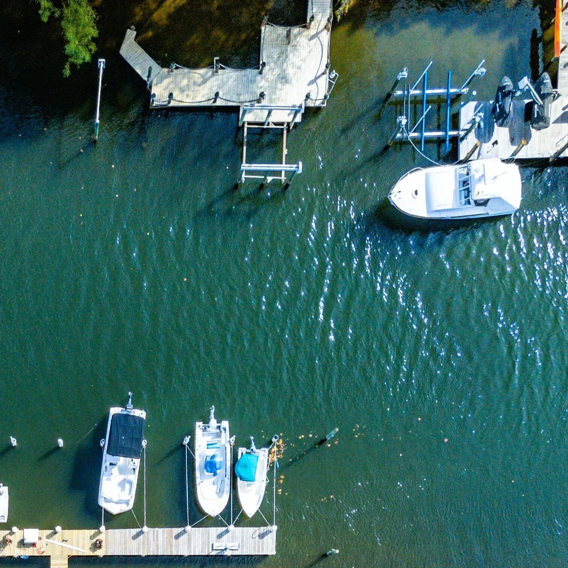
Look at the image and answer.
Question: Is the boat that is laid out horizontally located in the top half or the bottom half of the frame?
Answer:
top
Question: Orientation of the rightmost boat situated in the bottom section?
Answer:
from top to bottom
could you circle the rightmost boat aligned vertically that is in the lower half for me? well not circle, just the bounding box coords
[234,434,270,517]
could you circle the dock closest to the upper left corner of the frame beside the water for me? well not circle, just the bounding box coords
[120,0,338,126]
